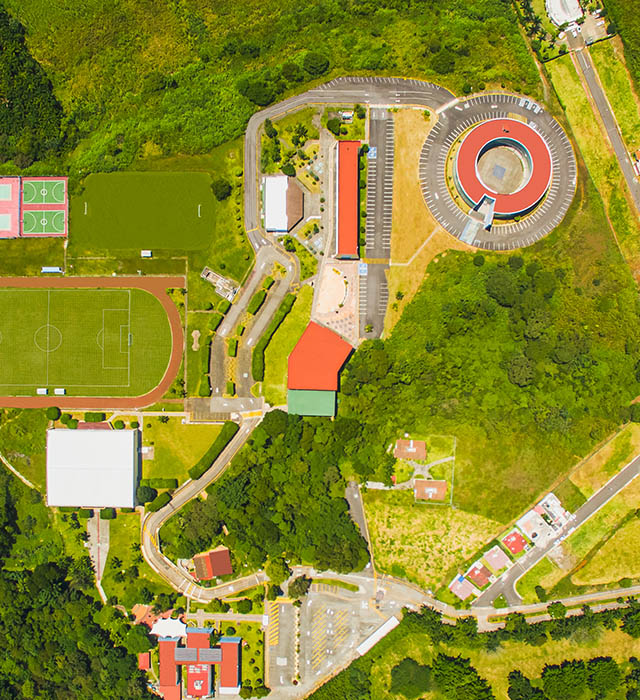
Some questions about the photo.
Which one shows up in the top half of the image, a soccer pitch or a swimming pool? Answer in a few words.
soccer pitch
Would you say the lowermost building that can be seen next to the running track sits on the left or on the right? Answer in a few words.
left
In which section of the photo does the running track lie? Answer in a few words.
left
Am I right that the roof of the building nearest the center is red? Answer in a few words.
Yes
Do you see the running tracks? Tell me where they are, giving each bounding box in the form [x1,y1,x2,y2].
[0,277,186,409]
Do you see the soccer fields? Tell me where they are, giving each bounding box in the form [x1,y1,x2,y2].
[0,288,172,396]
[69,172,216,249]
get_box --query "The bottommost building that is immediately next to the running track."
[46,428,137,509]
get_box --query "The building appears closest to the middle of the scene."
[288,321,352,390]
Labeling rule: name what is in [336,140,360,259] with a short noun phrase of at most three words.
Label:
building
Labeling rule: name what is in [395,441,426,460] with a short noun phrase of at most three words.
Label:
house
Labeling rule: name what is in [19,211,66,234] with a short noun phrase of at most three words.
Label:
basketball court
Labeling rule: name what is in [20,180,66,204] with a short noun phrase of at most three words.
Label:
basketball court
